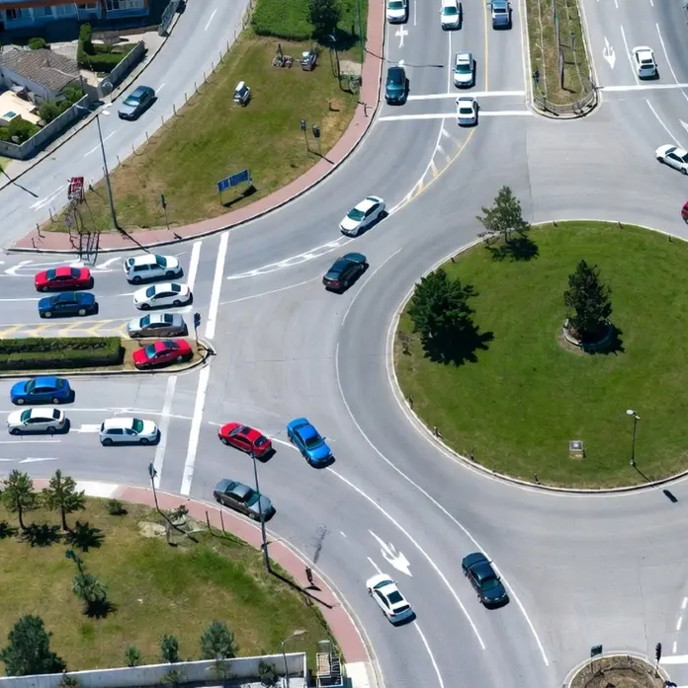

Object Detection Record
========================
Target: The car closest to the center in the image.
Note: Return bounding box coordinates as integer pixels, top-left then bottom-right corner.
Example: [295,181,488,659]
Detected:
[321,252,368,291]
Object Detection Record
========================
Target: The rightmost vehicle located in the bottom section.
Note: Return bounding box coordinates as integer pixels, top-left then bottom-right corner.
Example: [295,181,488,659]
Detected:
[459,552,510,605]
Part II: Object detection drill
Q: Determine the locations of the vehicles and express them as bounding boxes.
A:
[125,254,182,283]
[489,0,510,25]
[459,552,510,605]
[321,252,368,291]
[338,195,389,235]
[217,424,275,460]
[12,380,72,407]
[438,0,460,25]
[36,268,93,294]
[383,63,407,102]
[133,284,192,310]
[127,314,188,341]
[631,46,657,80]
[656,148,688,176]
[212,477,275,519]
[38,293,96,320]
[9,410,68,437]
[385,0,407,17]
[117,85,158,119]
[365,577,416,624]
[455,96,477,127]
[452,46,475,85]
[133,342,192,371]
[101,419,158,447]
[284,418,335,466]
